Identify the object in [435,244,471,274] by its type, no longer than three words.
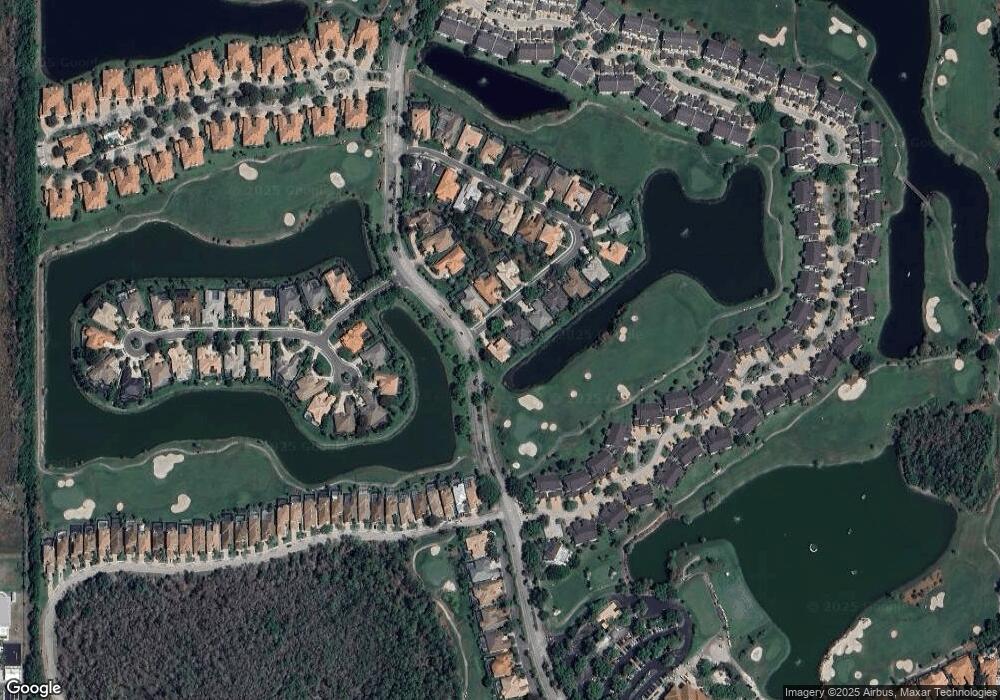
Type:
house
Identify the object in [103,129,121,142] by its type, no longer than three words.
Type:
swimming pool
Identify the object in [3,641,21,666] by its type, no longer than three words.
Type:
building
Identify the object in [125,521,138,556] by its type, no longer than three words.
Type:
house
